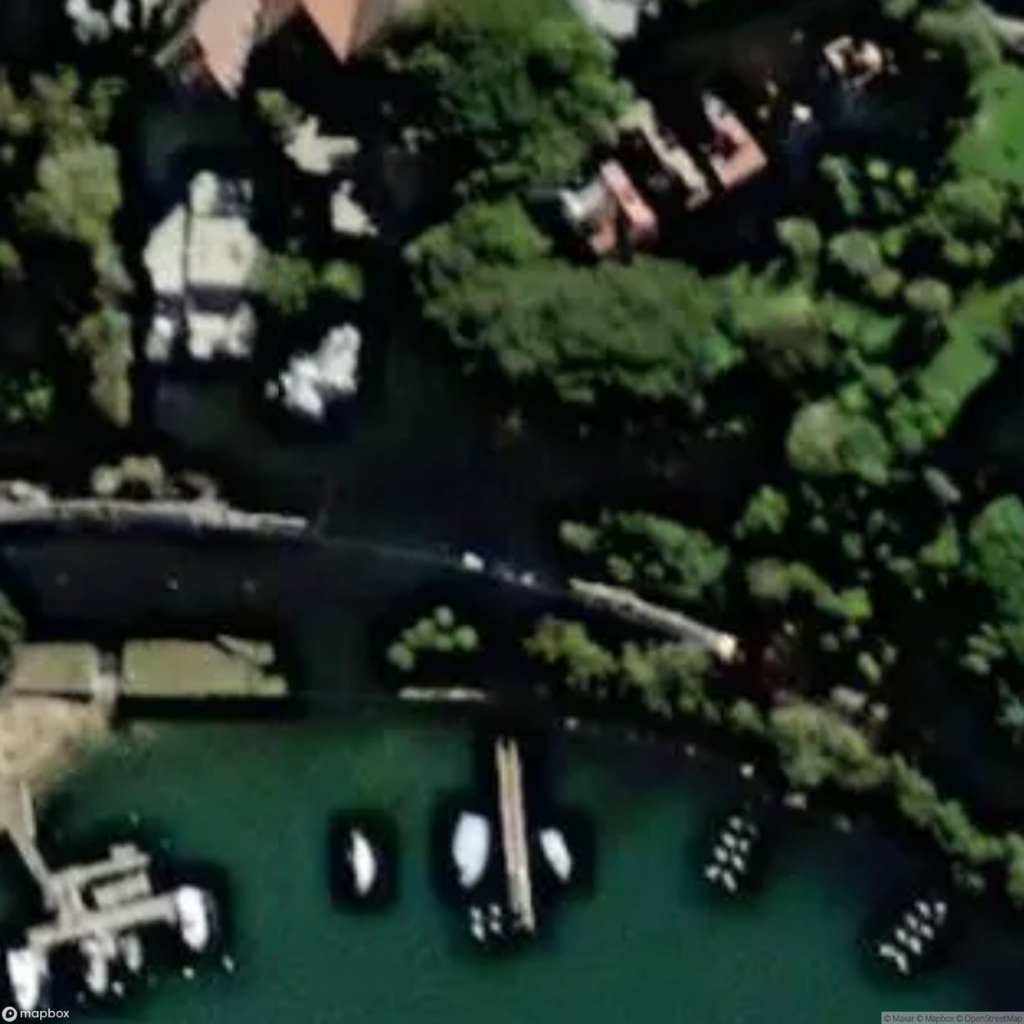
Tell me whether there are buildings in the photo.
Yes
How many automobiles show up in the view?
1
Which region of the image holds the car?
center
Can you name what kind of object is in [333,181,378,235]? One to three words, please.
building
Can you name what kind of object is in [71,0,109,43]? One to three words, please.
shed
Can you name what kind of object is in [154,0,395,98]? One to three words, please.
house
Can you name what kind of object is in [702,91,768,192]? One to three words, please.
house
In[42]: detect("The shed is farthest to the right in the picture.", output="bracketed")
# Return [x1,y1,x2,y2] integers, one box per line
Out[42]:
[923,468,960,501]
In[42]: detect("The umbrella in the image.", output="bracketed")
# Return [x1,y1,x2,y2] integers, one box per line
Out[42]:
[794,106,809,120]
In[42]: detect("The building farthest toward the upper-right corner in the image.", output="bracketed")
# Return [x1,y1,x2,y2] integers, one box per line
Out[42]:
[823,35,882,90]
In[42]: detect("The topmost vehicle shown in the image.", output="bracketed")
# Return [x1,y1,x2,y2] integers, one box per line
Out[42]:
[460,550,485,570]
